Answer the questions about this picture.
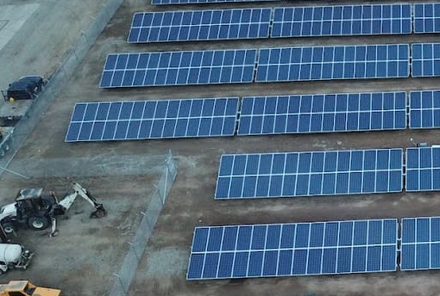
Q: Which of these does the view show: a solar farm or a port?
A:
solar farm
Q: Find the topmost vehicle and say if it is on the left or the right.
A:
left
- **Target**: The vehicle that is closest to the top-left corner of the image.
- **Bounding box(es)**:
[4,69,47,99]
